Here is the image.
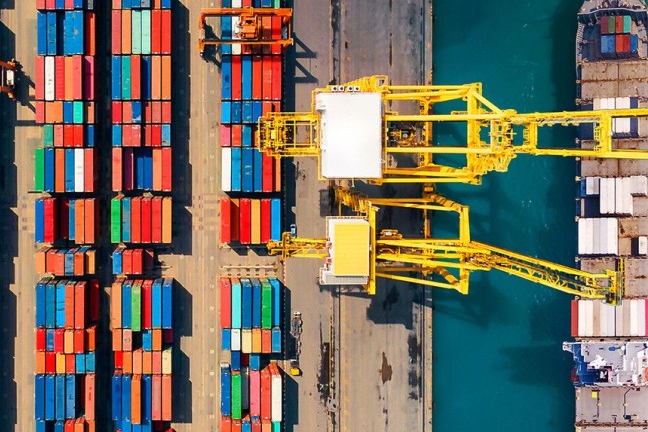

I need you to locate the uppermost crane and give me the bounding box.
[199,9,295,60]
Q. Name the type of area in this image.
port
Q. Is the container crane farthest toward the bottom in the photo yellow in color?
Yes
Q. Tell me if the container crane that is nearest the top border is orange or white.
orange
